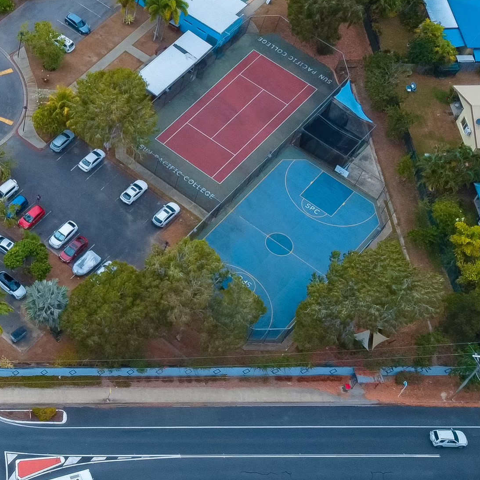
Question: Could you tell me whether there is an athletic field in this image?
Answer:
Yes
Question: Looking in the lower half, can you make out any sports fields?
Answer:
No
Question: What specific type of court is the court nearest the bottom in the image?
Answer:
basketball court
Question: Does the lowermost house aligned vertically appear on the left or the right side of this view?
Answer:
right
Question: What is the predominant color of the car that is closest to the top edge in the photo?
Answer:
blue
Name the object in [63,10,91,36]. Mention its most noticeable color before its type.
blue car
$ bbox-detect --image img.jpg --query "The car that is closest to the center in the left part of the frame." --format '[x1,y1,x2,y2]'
[152,200,181,229]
